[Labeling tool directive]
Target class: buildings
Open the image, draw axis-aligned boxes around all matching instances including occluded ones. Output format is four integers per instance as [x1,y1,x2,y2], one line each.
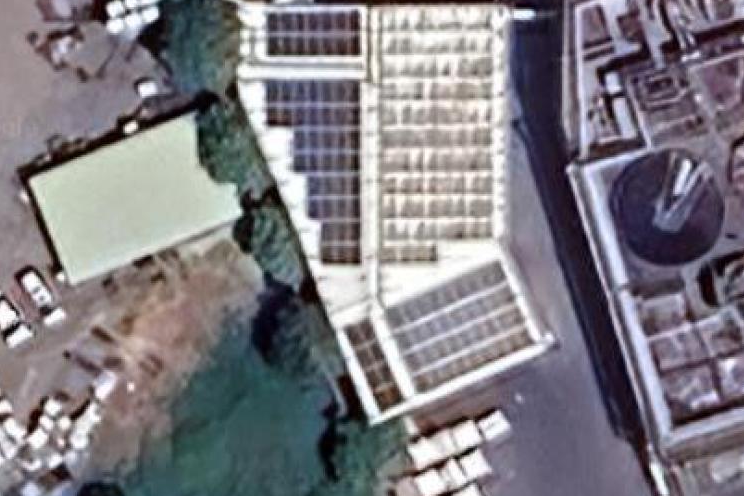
[238,2,555,426]
[29,113,242,284]
[563,0,744,450]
